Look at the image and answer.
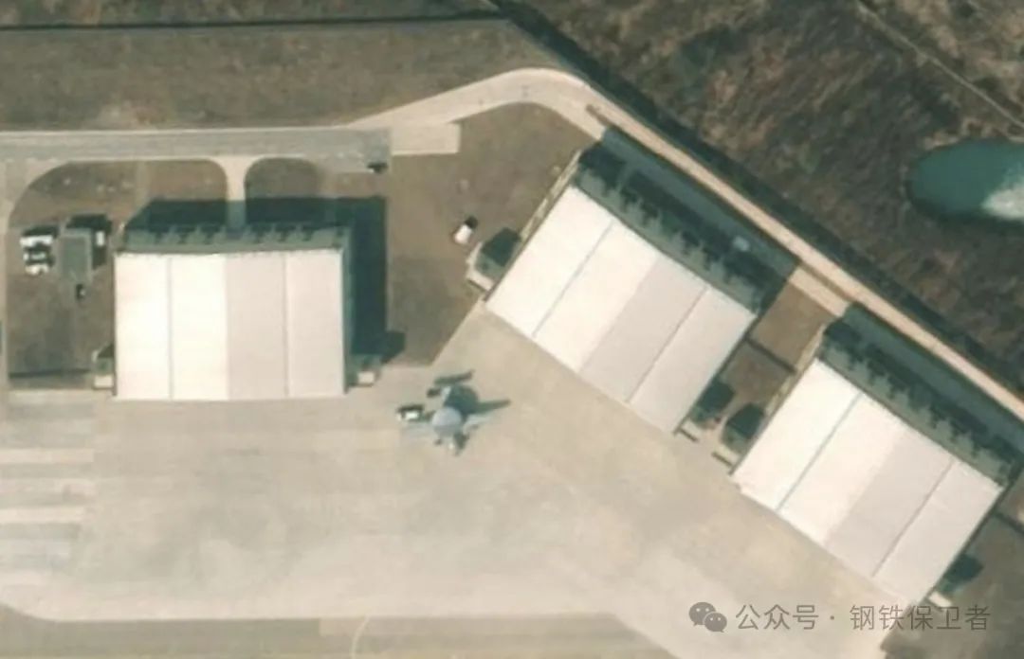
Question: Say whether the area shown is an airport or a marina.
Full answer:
It's an airport.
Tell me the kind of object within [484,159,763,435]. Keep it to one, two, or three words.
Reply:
hangar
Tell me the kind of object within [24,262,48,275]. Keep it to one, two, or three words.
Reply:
vehicle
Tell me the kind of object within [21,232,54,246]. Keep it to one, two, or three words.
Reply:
vehicle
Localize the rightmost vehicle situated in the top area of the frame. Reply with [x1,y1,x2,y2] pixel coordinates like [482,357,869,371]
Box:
[731,235,749,250]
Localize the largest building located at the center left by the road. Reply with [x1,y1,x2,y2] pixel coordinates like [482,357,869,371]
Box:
[113,221,354,401]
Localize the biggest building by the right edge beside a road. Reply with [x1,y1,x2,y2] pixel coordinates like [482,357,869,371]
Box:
[731,330,1011,607]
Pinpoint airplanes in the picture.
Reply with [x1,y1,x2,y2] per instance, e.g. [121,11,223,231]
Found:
[402,388,497,448]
